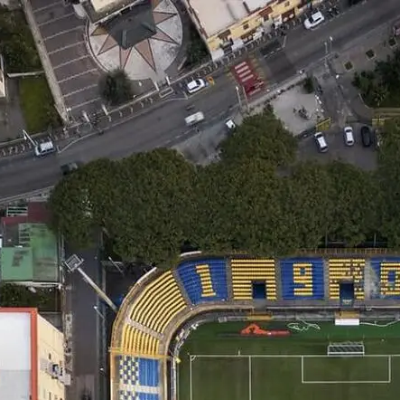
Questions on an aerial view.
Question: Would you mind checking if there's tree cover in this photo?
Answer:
Yes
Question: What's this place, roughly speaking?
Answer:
sports ground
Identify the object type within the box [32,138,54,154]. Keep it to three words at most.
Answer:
car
